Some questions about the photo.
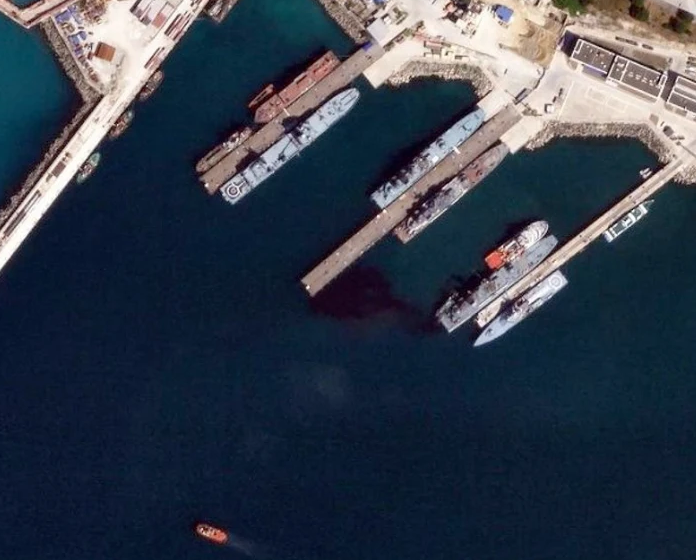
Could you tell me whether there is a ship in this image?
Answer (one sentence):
Yes, I can see a ship in this picture.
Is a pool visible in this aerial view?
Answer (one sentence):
No, I can't see a single pool in this photo.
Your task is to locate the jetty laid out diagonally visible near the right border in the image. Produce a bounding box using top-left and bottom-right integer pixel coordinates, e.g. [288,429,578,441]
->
[475,158,687,326]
